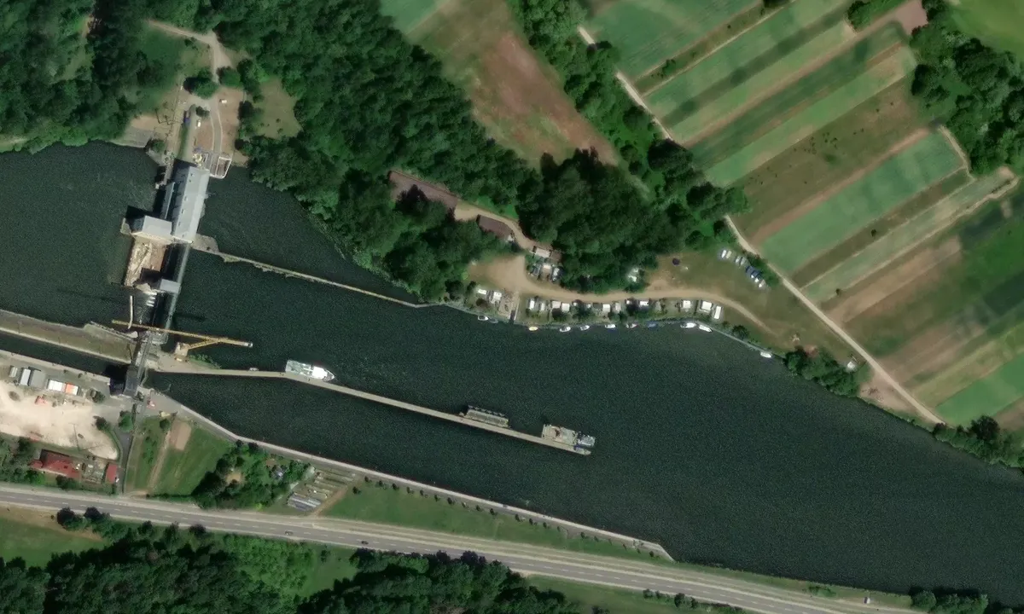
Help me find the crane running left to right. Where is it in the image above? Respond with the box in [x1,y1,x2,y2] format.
[112,319,253,362]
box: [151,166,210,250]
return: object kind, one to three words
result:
building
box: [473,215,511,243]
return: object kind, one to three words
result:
barn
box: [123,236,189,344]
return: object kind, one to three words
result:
dam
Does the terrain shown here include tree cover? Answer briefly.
Yes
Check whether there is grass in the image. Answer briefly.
Yes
